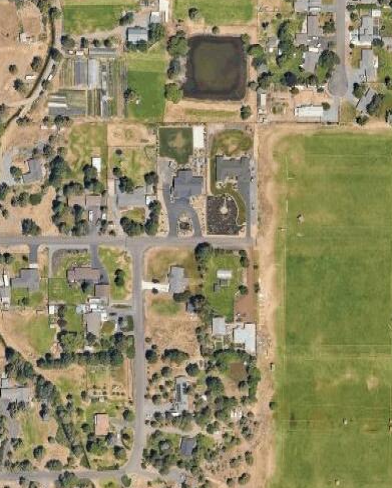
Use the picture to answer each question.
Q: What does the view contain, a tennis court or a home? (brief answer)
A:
home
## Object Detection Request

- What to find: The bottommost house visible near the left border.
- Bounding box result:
[1,379,31,405]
